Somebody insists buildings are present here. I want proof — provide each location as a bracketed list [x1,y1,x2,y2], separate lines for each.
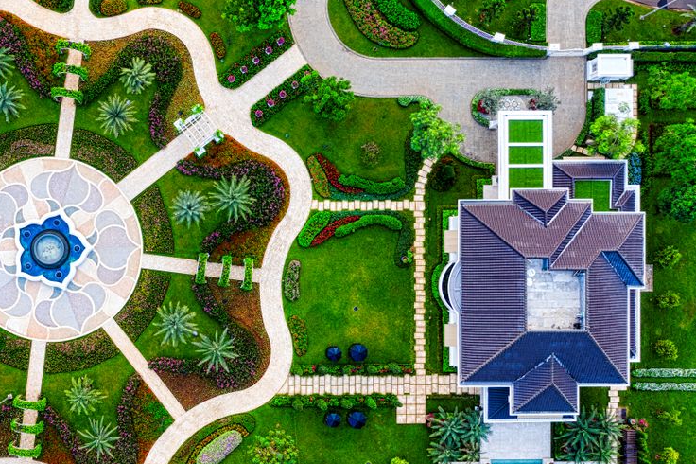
[587,53,633,88]
[432,111,653,423]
